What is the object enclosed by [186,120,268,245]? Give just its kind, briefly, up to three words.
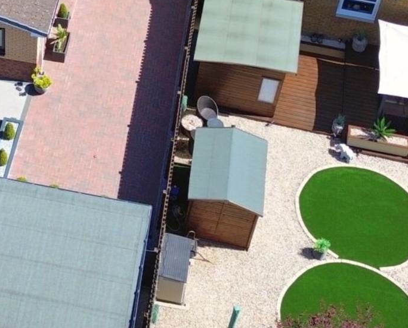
shed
